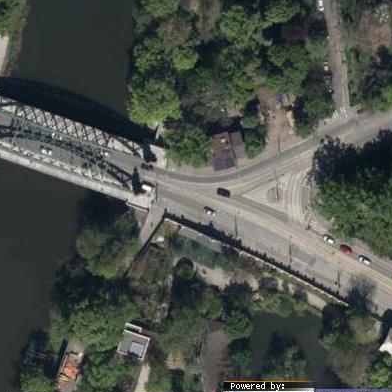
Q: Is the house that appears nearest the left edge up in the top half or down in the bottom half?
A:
bottom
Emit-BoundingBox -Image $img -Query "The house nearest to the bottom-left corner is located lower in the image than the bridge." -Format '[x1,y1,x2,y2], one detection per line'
[117,322,148,361]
